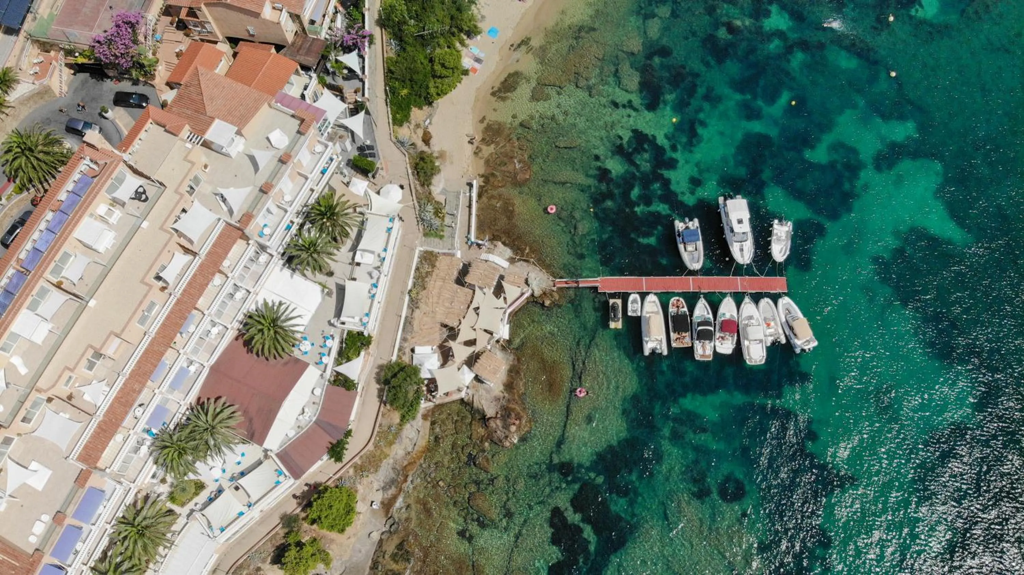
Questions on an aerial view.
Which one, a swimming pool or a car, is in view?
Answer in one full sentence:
Of the two, only a car appears.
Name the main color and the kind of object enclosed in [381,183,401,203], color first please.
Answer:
white umbrella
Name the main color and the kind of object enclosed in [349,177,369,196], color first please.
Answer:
white umbrella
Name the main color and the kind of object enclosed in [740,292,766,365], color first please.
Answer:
white boat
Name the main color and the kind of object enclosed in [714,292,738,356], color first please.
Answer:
white boat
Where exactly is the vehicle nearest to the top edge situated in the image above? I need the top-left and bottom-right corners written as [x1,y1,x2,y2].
[110,90,152,110]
